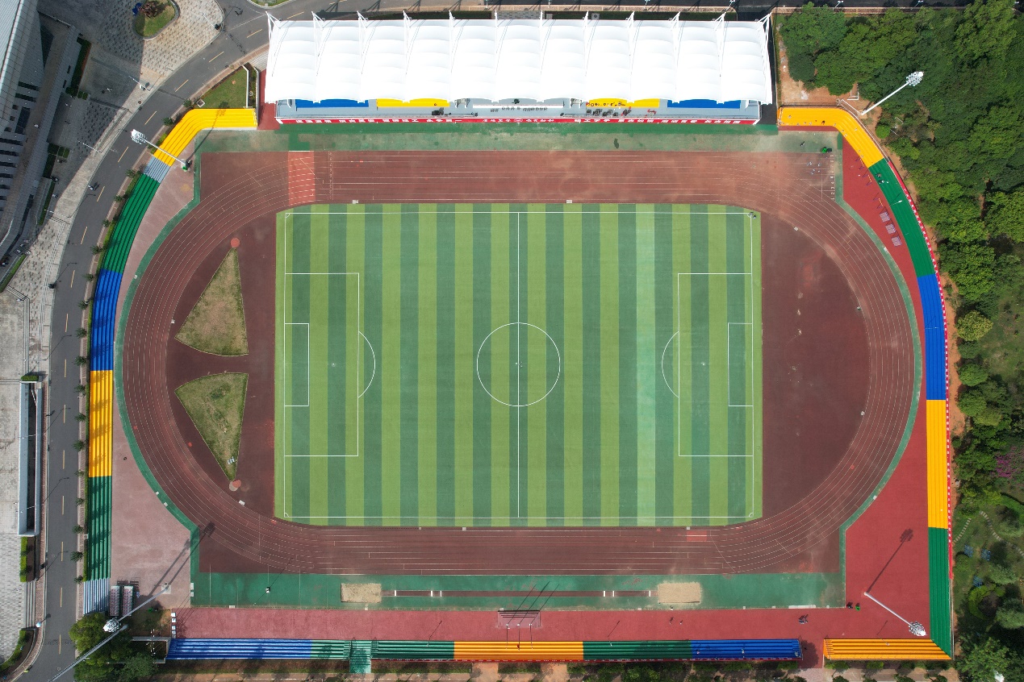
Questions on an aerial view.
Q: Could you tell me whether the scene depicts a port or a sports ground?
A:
sports ground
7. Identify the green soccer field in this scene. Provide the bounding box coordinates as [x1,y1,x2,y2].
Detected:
[275,204,762,528]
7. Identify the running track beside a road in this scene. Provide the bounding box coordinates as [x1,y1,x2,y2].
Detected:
[114,122,922,607]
